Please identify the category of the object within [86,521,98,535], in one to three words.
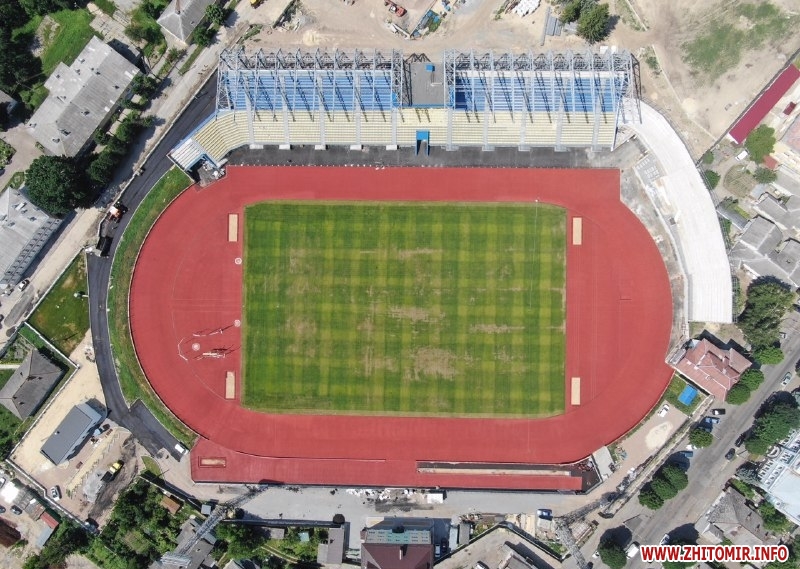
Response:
vehicle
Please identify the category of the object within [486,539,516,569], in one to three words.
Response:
house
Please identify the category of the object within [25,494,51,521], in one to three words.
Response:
shed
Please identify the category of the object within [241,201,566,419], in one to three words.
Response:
soccer field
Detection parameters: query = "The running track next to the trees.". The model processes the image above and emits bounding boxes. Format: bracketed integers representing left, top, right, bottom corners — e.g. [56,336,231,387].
[129,166,675,492]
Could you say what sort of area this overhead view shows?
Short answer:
sports ground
